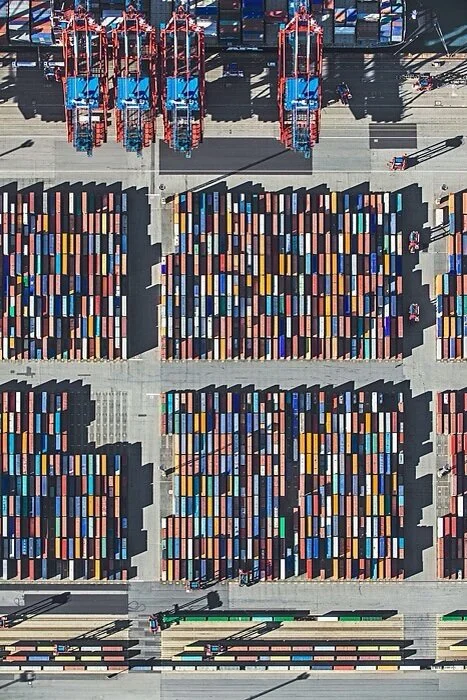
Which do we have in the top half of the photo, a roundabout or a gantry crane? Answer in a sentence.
It is a gantry crane that can be seen in the top half of the photo.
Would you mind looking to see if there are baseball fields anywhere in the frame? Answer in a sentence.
No, there is no baseball field in the image.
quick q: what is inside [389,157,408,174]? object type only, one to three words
work vehicle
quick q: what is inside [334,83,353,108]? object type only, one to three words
work vehicle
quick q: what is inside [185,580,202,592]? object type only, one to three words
vehicle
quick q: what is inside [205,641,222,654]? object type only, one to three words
vehicle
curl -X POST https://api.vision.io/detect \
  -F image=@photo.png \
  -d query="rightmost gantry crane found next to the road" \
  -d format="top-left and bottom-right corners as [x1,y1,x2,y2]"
[272,0,324,163]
